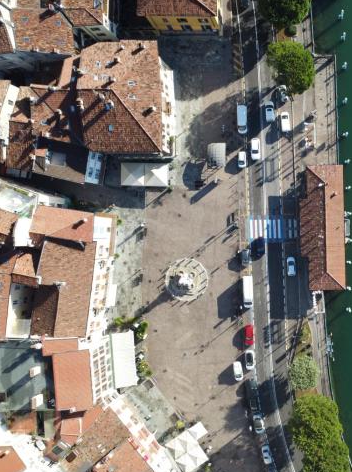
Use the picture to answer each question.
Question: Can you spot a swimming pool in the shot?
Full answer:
No, the scene contains no swimming pool.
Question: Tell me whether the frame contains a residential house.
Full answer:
Yes, this view includes a residential house.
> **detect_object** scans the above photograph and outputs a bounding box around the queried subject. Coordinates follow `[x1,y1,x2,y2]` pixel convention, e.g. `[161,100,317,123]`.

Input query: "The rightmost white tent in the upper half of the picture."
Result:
[146,163,173,189]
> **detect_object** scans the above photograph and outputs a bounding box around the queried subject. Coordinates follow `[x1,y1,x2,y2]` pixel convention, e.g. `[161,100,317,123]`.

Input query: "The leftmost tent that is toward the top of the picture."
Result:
[121,163,149,188]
